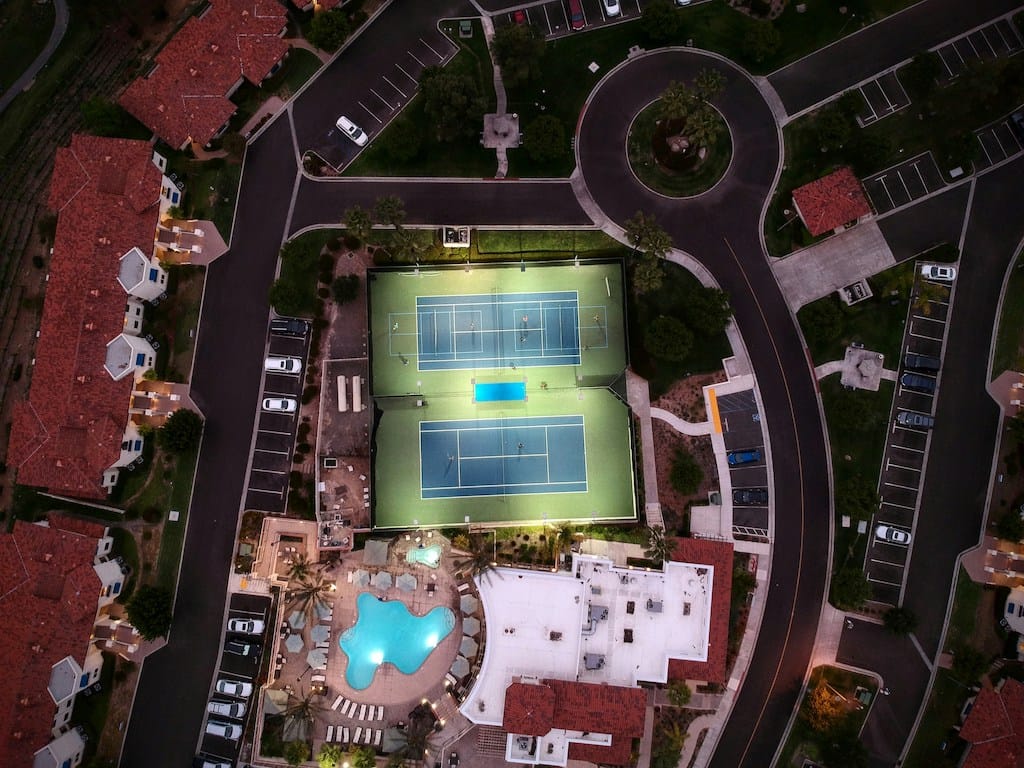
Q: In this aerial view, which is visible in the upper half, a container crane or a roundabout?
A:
roundabout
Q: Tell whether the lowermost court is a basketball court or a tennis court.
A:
tennis court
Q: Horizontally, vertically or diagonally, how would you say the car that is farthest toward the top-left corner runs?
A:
diagonally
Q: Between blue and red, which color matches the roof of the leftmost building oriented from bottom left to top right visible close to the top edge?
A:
red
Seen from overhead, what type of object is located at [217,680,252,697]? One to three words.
car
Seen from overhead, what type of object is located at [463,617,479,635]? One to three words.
umbrella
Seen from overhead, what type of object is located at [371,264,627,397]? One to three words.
tennis court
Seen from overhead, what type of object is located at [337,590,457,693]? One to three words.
swimming pool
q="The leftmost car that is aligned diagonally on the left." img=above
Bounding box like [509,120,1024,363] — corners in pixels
[335,115,368,147]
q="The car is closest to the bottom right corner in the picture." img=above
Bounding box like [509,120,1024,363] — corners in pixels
[874,526,909,543]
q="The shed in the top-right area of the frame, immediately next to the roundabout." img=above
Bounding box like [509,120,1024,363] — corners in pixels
[788,166,872,238]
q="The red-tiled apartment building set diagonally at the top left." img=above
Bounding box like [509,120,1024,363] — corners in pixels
[120,0,314,155]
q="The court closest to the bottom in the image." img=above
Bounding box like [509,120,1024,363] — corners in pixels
[373,387,636,527]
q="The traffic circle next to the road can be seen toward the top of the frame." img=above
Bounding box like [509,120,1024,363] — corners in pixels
[580,47,781,248]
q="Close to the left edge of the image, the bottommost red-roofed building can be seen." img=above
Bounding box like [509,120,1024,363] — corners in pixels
[0,511,124,768]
